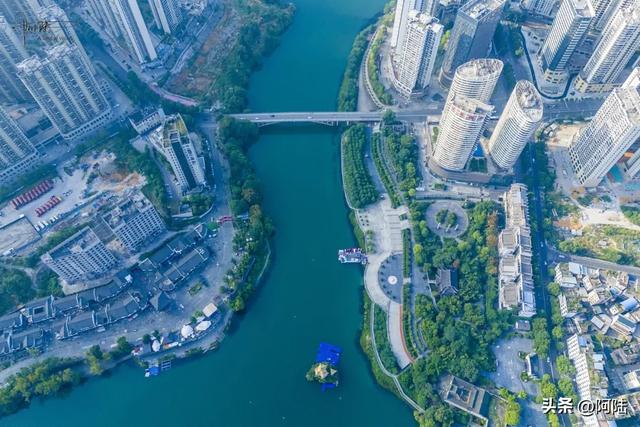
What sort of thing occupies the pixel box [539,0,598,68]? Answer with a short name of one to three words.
building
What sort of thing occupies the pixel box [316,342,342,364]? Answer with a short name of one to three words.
pier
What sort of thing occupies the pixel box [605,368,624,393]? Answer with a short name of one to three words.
house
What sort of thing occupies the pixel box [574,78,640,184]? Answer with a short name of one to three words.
building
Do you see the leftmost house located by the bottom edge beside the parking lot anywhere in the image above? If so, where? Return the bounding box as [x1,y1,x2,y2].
[441,374,487,418]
